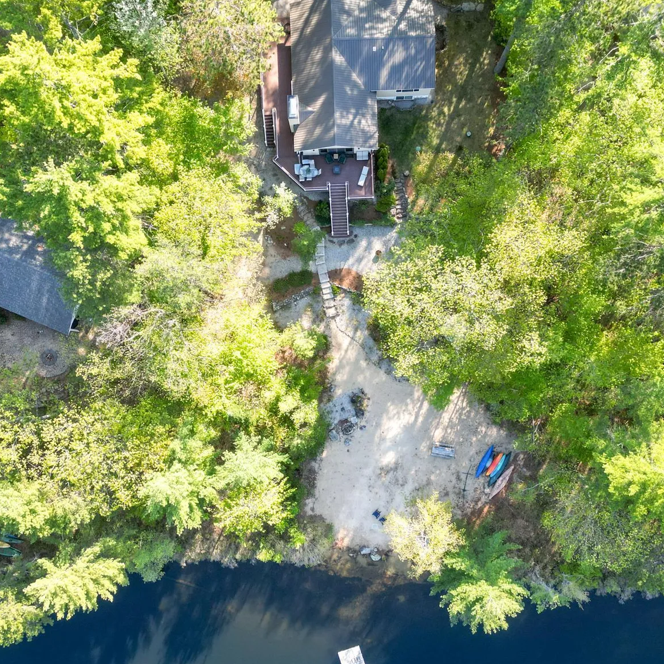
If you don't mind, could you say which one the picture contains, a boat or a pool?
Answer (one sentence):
This aerial view contains a boat.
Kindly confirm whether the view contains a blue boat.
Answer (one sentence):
Yes, the frame does contain a blue boat.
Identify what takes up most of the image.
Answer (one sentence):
The bulk of the photo consists of trees.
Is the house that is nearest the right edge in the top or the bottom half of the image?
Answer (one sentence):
It is in the top half that the house that is nearest the right edge appears.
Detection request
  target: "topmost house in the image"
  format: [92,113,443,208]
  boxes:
[286,0,436,153]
